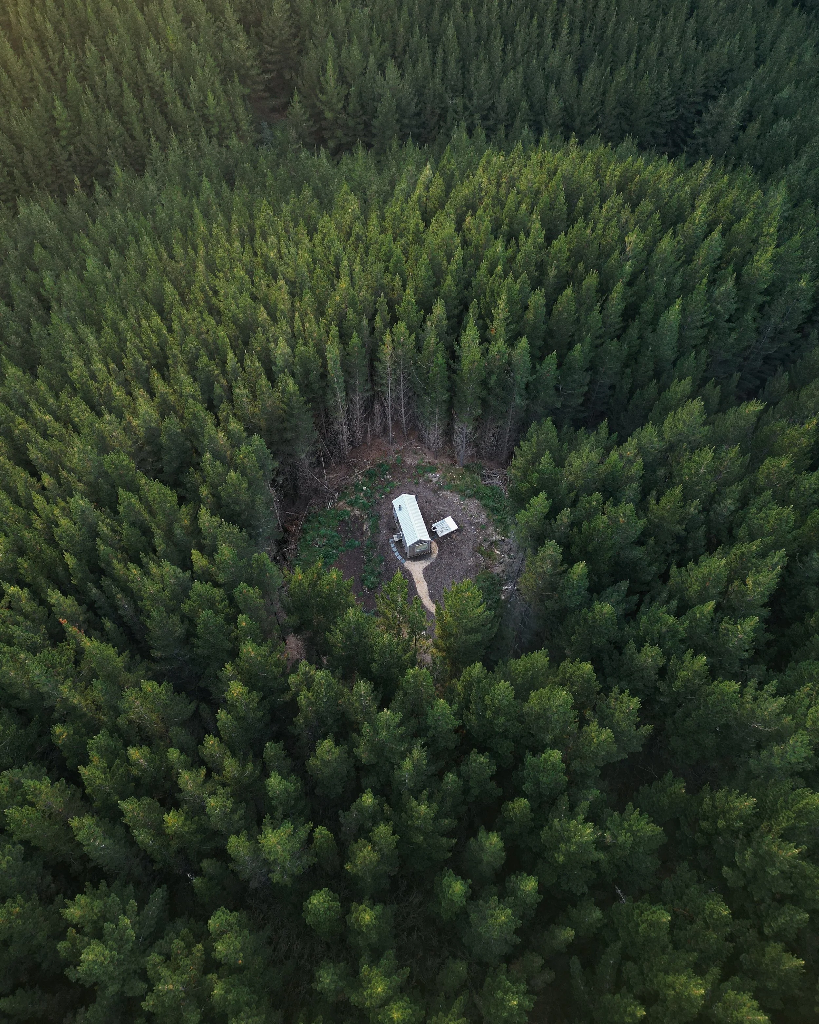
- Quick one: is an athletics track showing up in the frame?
No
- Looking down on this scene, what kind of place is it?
forest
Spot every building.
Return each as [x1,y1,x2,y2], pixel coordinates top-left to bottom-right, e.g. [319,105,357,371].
[389,491,433,558]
